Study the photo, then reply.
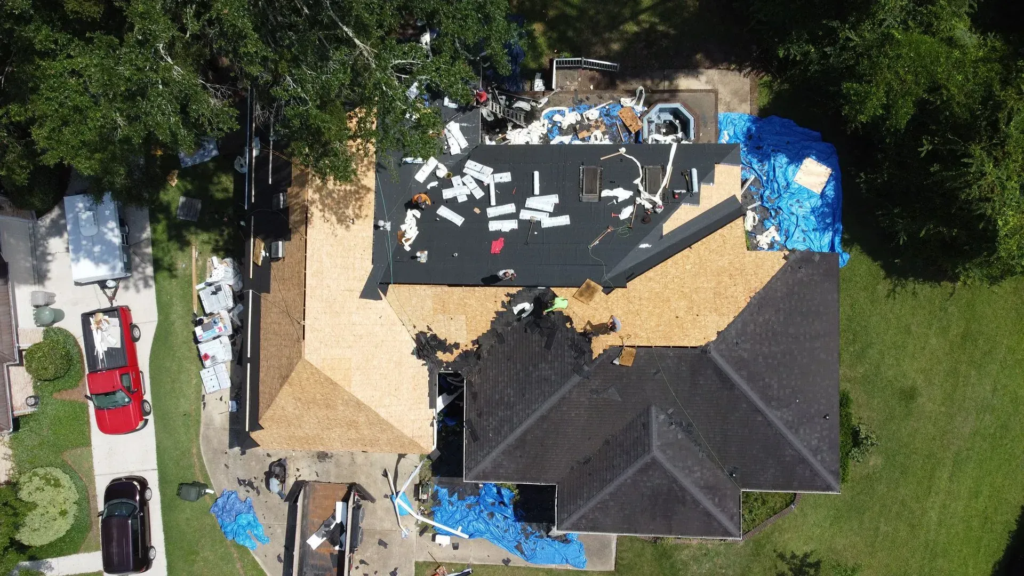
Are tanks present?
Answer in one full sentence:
No, the scene contains no tank.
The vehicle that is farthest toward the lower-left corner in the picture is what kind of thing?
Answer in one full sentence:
The vehicle that is farthest toward the lower-left corner in the image is an automobile.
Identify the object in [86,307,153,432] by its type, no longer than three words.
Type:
truck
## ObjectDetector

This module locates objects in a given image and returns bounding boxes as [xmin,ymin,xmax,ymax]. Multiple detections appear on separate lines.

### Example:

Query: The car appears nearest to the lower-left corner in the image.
[96,474,156,574]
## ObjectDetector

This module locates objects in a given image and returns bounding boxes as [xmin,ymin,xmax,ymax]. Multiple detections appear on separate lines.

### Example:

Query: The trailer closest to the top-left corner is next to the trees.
[64,192,138,300]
